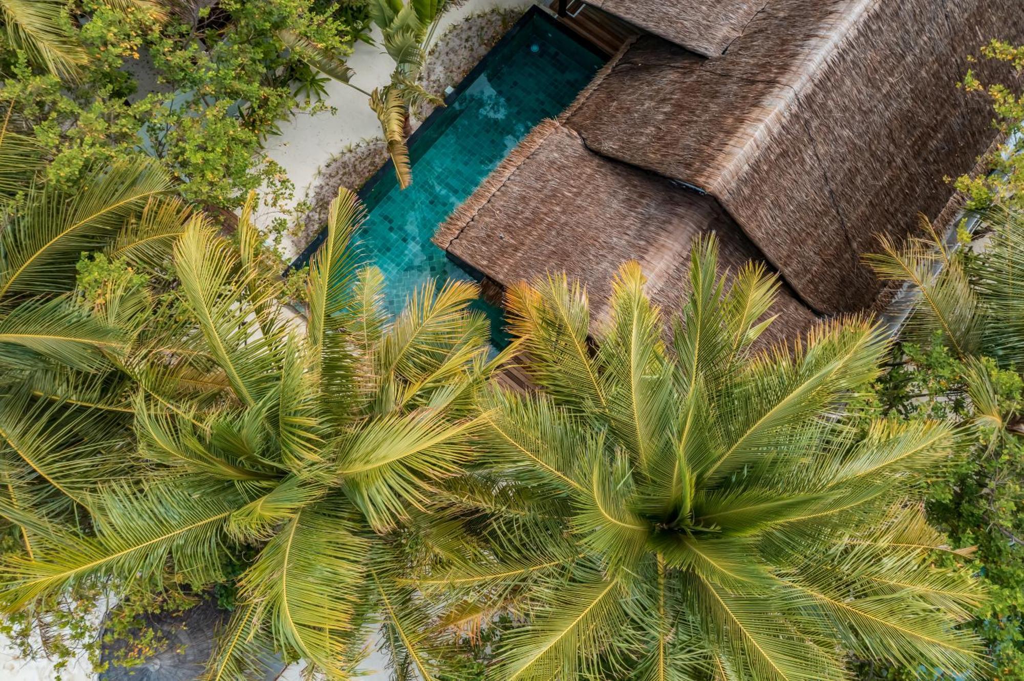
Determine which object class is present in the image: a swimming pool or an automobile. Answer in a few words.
swimming pool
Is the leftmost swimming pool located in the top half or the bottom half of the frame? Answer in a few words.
top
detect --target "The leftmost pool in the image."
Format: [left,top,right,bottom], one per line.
[259,9,613,400]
